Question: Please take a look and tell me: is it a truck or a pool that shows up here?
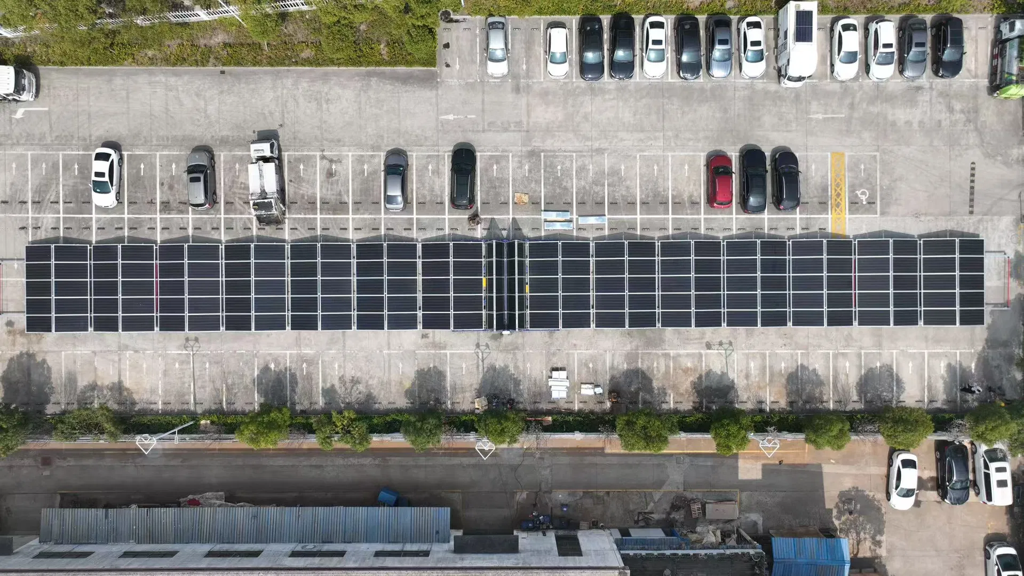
truck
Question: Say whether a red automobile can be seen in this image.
Yes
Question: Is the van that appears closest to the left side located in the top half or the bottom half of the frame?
top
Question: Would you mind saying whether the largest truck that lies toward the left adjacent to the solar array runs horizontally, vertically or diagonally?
vertically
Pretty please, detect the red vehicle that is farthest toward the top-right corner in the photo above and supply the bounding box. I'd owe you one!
[706,155,736,210]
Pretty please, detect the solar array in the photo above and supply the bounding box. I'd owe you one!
[0,239,1011,336]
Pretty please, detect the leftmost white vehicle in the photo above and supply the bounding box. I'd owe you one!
[0,65,43,100]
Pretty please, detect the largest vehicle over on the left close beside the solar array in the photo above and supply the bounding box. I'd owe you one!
[247,134,285,225]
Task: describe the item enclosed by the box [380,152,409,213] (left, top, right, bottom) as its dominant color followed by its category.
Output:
gray car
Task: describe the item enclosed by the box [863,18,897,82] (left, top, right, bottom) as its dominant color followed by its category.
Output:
white car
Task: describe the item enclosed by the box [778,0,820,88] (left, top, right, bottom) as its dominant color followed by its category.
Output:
white vehicle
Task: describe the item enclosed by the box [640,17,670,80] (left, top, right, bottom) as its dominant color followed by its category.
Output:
white car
